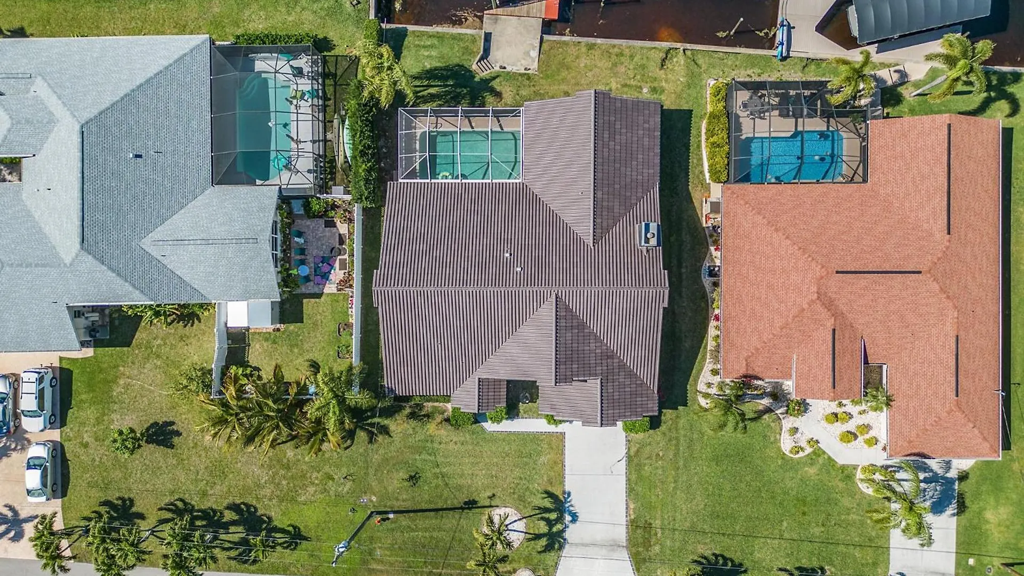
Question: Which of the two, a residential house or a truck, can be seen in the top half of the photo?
residential house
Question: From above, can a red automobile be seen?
No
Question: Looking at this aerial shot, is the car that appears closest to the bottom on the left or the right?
left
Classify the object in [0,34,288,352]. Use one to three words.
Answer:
house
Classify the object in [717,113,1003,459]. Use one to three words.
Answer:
house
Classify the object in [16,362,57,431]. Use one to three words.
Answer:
car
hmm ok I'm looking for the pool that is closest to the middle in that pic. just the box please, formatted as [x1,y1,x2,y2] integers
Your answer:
[414,125,521,180]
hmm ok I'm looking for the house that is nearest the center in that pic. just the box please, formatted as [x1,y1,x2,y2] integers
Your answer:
[370,89,670,427]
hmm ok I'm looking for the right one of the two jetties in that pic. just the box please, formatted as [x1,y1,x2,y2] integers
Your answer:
[777,0,967,65]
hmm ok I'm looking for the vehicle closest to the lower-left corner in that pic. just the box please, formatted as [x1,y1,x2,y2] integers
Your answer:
[22,439,59,505]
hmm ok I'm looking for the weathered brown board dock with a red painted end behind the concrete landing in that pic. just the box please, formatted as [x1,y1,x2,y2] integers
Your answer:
[484,0,558,21]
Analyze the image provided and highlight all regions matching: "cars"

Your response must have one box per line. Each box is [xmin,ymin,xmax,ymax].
[0,373,14,438]
[16,362,57,431]
[22,439,59,505]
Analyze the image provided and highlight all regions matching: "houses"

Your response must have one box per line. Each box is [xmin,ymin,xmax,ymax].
[370,89,670,427]
[0,34,288,352]
[717,113,1003,459]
